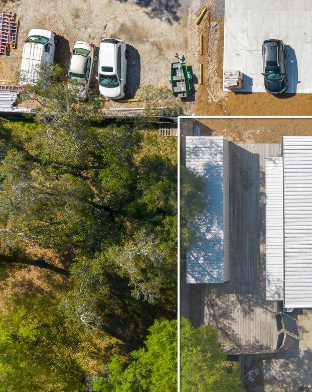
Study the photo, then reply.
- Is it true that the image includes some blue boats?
No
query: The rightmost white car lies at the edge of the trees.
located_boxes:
[95,40,128,101]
